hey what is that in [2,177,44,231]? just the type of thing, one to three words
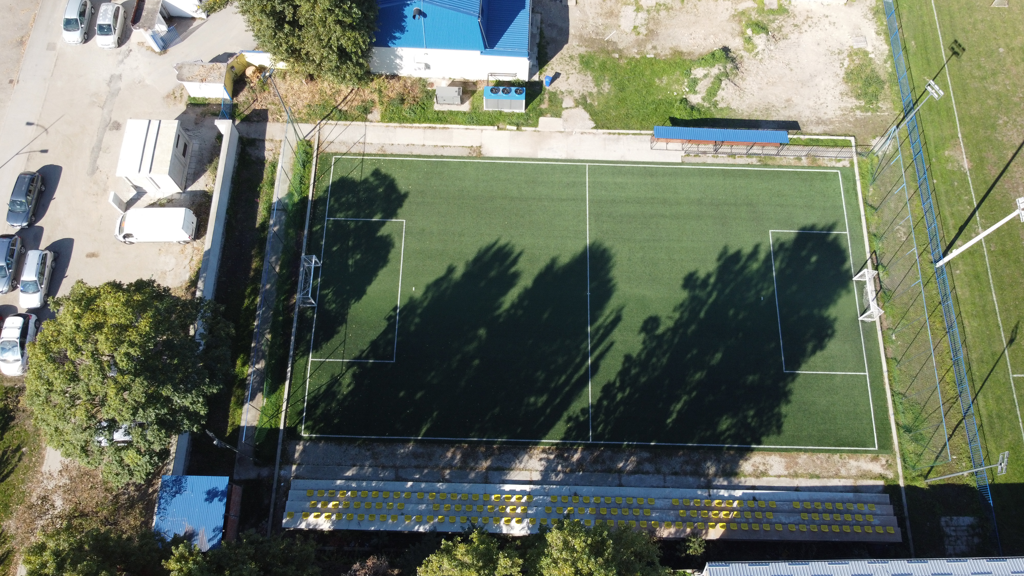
car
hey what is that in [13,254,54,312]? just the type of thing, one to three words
car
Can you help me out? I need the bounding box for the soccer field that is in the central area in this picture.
[284,153,891,459]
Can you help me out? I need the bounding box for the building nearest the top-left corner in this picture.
[128,0,171,47]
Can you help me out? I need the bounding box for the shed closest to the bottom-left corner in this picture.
[151,475,243,551]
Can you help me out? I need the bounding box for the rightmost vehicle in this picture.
[113,209,197,245]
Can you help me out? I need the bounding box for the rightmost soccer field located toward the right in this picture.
[890,0,1024,563]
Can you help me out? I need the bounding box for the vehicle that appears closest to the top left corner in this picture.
[57,0,93,45]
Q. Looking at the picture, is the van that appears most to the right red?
No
